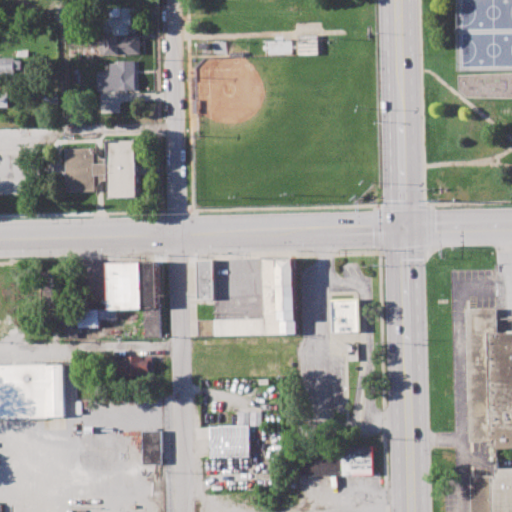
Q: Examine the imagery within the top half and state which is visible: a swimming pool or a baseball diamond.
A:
baseball diamond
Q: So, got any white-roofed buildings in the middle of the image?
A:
Yes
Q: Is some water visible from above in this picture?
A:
No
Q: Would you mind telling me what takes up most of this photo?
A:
paved ground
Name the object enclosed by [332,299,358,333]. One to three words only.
building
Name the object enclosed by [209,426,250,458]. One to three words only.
building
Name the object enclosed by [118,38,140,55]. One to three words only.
house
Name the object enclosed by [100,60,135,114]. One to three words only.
house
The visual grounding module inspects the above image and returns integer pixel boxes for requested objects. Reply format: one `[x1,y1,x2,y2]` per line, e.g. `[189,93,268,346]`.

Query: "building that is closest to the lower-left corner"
[0,364,63,420]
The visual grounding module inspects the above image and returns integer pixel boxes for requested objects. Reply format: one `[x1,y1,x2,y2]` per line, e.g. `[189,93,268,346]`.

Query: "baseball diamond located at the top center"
[198,58,265,124]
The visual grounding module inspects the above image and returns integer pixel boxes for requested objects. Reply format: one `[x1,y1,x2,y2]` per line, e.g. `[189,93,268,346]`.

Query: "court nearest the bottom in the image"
[463,34,512,67]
